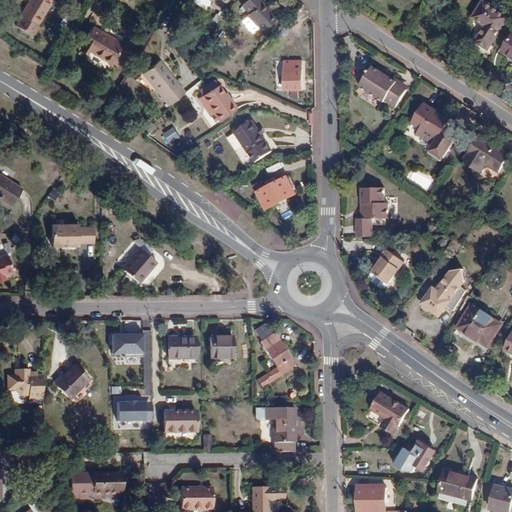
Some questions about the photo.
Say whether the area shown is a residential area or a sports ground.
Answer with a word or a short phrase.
residential area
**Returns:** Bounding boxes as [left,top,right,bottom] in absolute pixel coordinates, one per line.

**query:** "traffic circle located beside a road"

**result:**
[272,246,347,322]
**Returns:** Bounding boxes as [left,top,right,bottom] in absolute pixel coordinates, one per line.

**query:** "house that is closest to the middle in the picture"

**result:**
[254,175,296,213]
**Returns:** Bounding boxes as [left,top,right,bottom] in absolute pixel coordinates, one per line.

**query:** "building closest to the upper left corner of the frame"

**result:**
[14,0,50,42]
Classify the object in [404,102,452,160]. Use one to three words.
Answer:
house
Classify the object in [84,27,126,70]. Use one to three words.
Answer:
house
